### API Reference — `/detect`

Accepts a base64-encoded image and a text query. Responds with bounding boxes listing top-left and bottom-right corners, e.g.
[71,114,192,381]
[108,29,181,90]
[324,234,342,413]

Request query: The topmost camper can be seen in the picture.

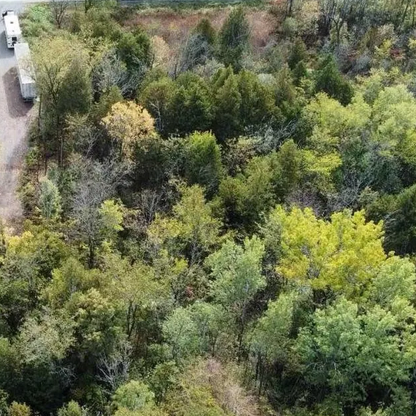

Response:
[2,16,21,49]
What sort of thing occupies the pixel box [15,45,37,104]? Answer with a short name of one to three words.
trailer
